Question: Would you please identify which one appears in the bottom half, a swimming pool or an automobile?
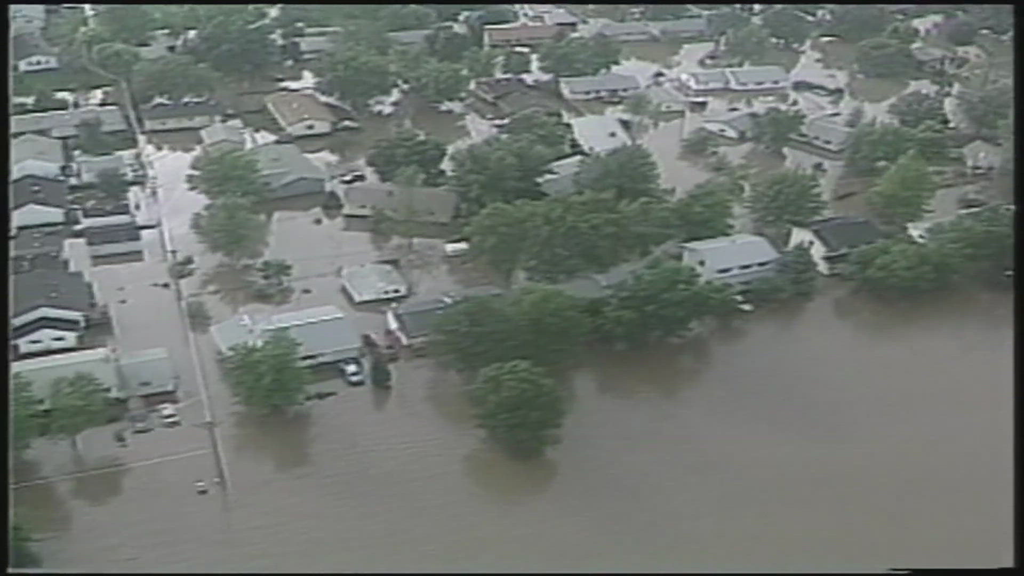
automobile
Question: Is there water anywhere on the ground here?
Yes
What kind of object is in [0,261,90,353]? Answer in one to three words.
house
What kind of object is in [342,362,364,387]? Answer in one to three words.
car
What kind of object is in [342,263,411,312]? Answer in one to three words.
house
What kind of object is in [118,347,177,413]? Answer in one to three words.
building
